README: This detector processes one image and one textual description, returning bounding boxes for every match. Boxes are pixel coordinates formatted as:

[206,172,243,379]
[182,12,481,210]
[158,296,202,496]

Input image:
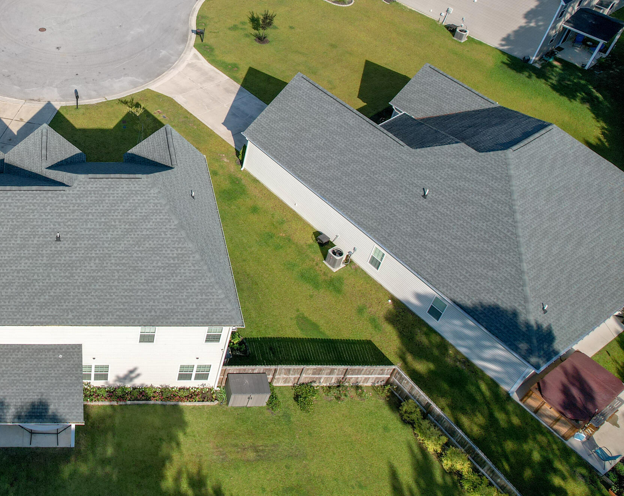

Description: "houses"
[395,0,624,71]
[0,121,247,444]
[234,62,624,395]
